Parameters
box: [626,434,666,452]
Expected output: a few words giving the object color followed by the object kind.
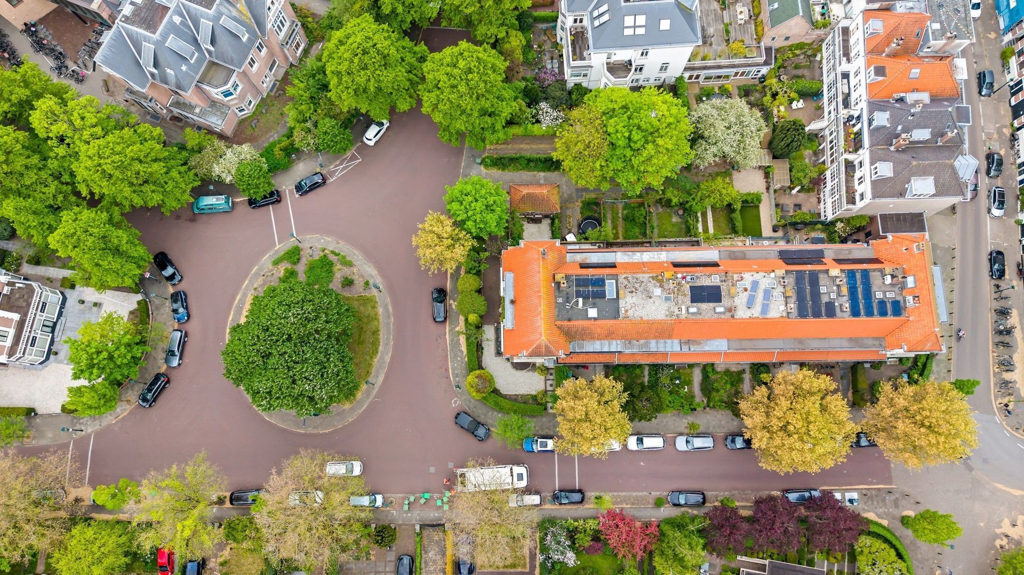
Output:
white car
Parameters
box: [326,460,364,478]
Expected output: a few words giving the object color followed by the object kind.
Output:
white car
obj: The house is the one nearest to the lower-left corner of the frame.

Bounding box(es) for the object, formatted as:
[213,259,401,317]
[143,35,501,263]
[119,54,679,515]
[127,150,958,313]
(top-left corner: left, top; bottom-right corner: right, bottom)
[0,269,77,371]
